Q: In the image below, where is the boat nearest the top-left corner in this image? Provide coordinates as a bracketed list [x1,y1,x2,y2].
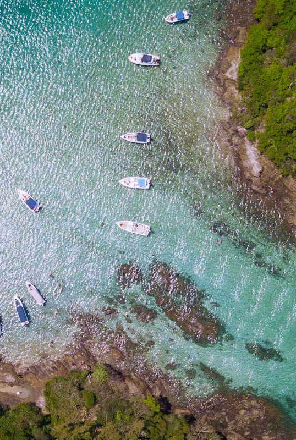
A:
[129,53,162,67]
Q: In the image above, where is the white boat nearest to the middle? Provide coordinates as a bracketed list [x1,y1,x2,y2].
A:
[117,220,154,239]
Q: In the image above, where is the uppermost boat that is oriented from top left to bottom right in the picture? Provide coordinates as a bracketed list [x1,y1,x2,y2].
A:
[18,188,43,216]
